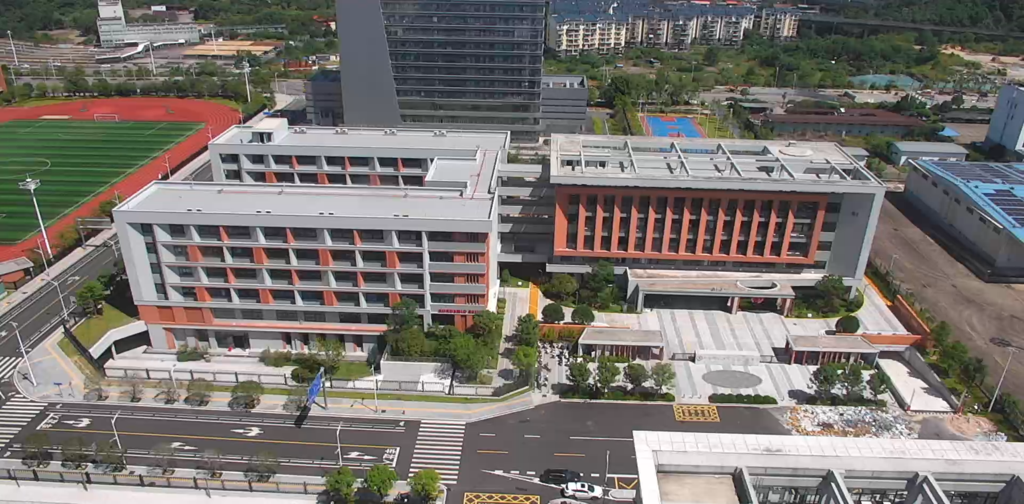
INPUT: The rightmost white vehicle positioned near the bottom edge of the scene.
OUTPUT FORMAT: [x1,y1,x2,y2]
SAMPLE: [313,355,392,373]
[561,477,603,501]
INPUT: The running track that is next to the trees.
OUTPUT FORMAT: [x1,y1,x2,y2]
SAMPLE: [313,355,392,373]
[0,97,236,262]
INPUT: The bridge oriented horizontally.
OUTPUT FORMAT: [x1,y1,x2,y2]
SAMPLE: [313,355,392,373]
[807,16,1024,58]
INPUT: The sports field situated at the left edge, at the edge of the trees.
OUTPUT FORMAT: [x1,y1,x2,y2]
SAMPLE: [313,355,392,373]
[0,118,205,242]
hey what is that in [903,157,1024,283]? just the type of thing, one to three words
warehouse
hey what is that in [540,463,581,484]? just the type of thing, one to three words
car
